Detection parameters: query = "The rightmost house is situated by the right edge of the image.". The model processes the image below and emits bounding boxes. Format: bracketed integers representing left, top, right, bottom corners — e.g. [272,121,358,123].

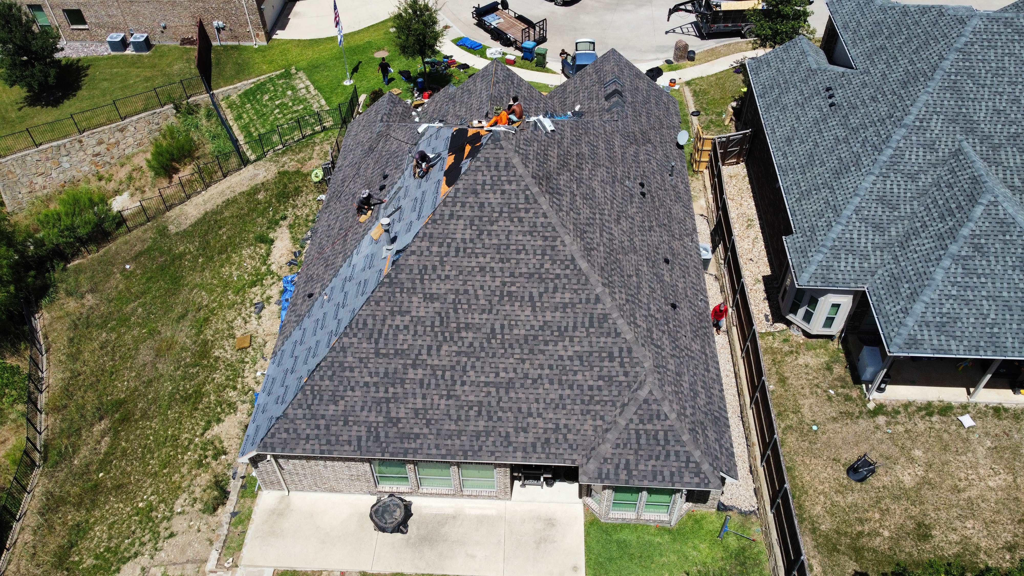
[745,0,1024,410]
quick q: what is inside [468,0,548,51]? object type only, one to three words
trailer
